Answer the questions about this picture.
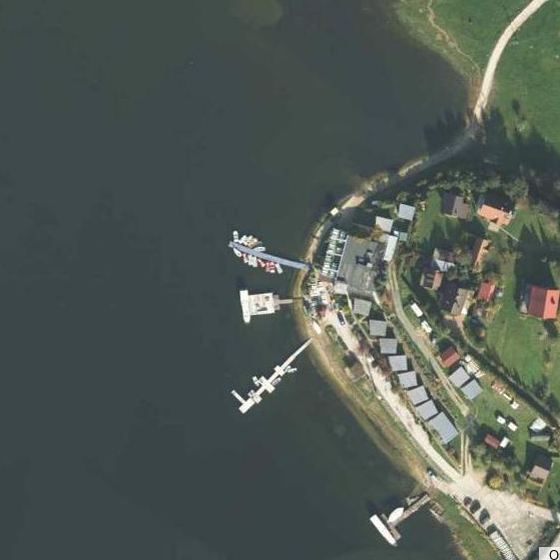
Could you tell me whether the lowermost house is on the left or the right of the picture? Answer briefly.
right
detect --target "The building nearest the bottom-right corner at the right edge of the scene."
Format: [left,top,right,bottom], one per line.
[528,459,549,481]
